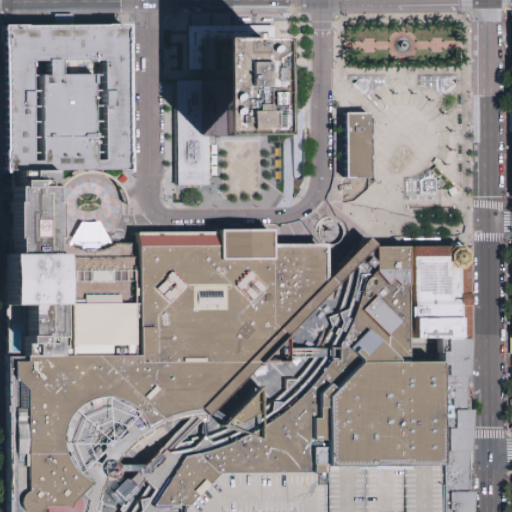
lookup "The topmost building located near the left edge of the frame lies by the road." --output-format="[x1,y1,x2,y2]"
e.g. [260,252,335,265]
[3,23,134,171]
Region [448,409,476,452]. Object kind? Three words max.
building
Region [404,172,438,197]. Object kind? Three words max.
building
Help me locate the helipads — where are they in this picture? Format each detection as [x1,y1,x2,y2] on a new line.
[40,220,53,238]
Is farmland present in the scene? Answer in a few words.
No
